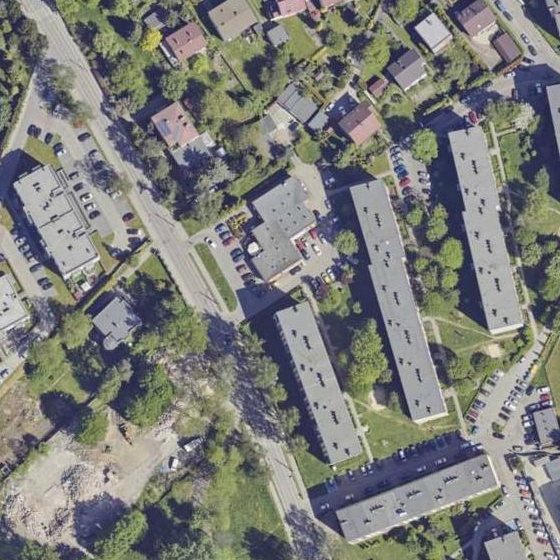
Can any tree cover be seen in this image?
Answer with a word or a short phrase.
Yes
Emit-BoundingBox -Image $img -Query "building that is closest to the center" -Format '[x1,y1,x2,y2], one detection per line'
[253,177,318,282]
